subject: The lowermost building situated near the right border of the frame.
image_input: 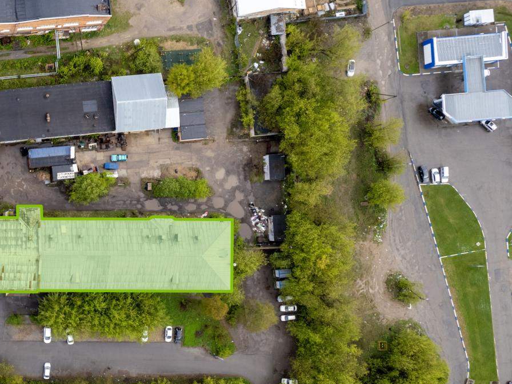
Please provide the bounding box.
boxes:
[418,30,510,67]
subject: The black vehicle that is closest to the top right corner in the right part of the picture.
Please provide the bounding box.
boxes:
[431,104,448,121]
